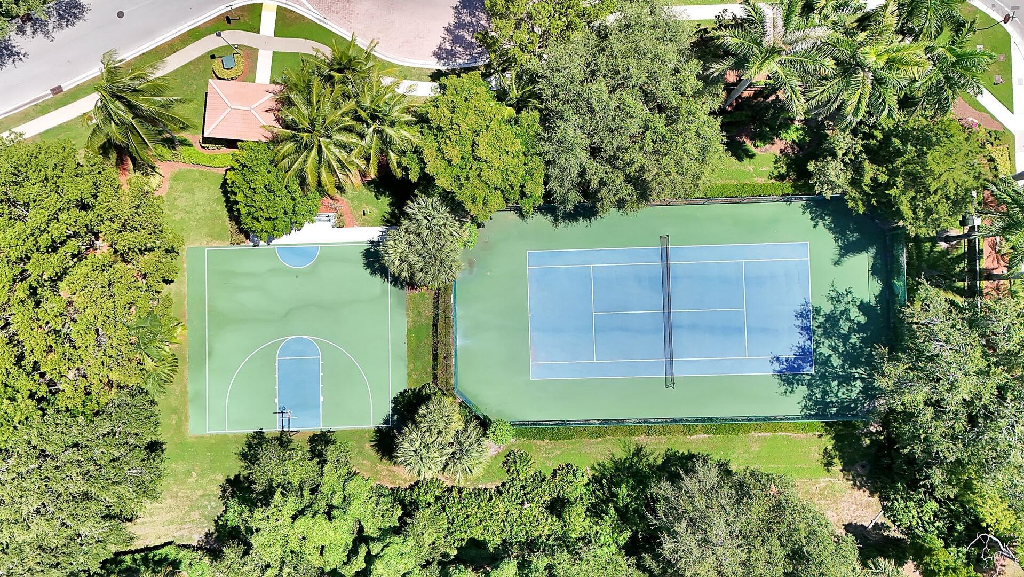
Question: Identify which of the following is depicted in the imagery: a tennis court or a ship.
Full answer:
There is a tennis court in the scene.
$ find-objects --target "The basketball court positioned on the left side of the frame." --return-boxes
[184,239,408,435]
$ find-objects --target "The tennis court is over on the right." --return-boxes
[454,201,886,423]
